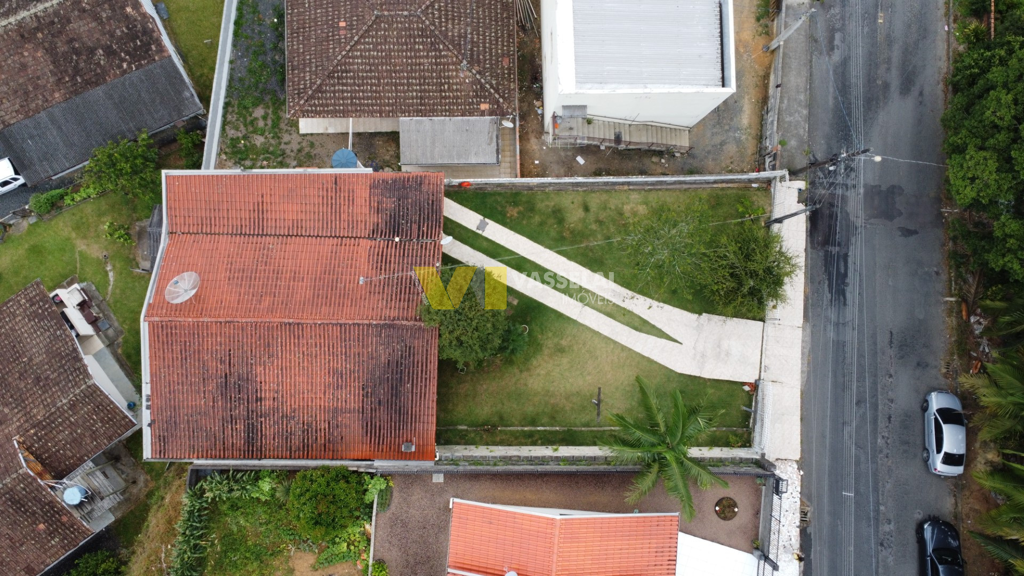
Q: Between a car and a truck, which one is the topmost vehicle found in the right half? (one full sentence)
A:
It turns out the topmost vehicle found in the right half is a car.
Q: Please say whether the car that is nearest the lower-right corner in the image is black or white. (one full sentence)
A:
The car that is nearest the lower-right corner is black.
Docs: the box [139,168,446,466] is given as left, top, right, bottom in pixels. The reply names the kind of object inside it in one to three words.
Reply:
house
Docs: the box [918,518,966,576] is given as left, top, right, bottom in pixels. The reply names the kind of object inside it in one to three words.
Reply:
car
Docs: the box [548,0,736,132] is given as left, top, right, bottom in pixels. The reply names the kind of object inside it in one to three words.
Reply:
building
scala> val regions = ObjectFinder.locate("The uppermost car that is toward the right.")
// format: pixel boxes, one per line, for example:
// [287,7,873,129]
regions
[921,391,969,478]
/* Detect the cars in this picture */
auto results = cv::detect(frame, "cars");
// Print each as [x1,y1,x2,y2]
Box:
[921,391,969,478]
[0,152,22,192]
[918,518,966,576]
